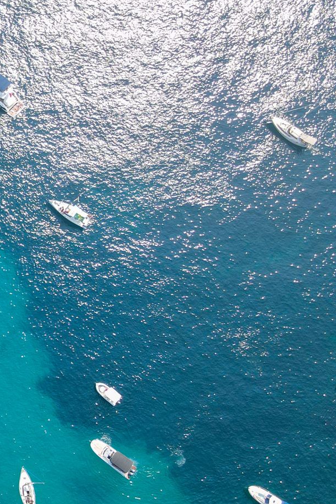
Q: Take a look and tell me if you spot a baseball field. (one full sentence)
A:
No, there appears to be no baseball field in this shot.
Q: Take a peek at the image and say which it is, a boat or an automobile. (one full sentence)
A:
Visible in the photo is a boat.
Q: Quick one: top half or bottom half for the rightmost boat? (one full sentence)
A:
It is in the top half that the rightmost boat appears.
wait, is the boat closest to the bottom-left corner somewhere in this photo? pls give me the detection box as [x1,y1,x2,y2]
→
[18,467,40,504]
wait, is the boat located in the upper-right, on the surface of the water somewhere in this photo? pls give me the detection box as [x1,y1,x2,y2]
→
[269,100,328,152]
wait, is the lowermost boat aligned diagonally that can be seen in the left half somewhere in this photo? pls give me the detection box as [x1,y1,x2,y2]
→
[90,439,137,481]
